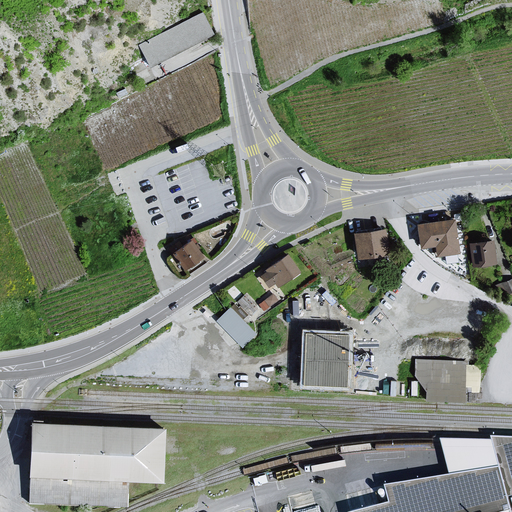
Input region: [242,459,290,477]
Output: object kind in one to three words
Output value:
rail car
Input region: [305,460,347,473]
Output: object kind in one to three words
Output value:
vehicle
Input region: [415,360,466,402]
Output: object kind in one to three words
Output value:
building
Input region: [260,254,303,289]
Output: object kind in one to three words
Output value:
house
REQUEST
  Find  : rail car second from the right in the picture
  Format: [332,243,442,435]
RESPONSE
[339,443,374,456]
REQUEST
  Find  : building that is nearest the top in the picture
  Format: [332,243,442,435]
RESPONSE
[138,12,214,67]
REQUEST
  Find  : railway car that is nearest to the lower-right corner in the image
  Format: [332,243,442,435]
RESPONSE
[374,437,436,450]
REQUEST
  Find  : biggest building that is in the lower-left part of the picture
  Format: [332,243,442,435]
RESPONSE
[30,424,166,508]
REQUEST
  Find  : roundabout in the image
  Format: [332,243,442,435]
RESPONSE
[250,126,340,250]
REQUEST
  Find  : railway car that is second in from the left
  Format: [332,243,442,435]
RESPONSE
[289,449,338,466]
